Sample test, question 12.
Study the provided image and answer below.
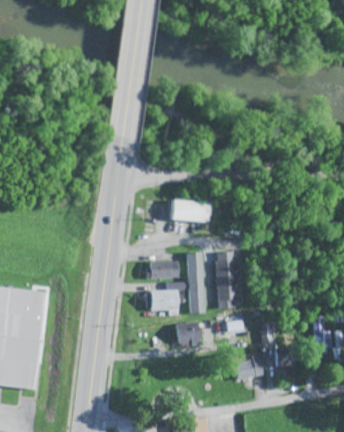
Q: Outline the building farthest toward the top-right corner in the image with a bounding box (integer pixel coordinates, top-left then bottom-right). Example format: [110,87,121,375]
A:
[170,198,212,223]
